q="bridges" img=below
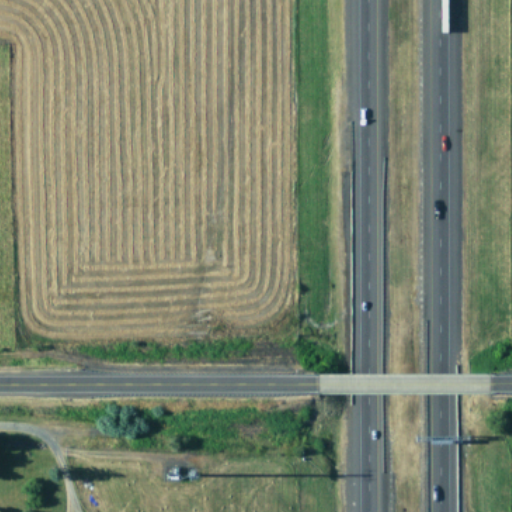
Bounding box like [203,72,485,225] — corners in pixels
[320,374,491,394]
